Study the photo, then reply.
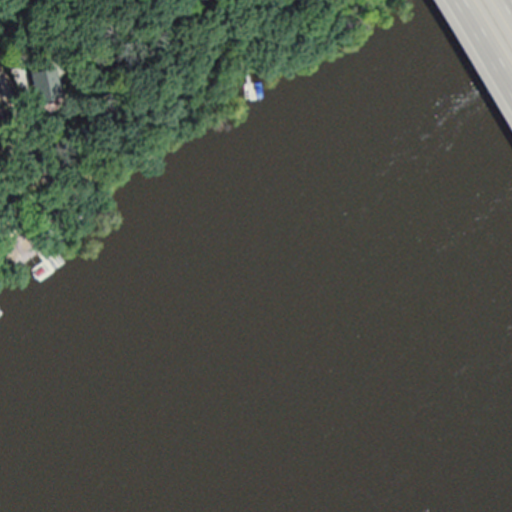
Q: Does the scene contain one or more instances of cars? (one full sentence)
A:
No, no car is visible in the scene.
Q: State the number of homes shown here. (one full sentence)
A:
The picture shows just 1 home.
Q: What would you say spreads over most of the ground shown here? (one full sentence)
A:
The scene is dominated by water.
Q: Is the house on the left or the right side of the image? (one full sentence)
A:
You can find the house on the left side of the picture.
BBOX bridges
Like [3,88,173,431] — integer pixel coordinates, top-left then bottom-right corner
[435,0,512,128]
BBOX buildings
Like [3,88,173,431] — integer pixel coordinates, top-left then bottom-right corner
[32,69,64,104]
